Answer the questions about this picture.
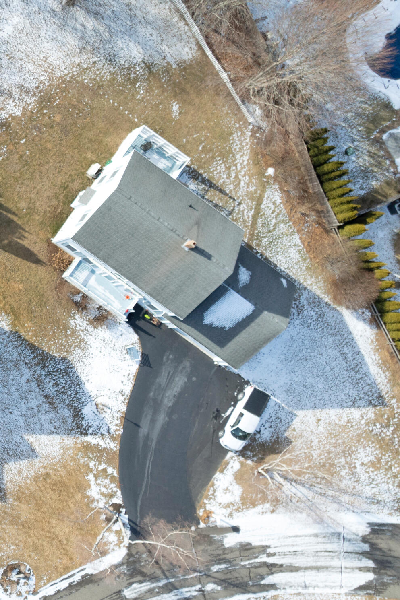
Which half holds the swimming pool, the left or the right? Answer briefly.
right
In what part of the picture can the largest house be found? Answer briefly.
center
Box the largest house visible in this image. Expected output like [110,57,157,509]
[54,150,297,369]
